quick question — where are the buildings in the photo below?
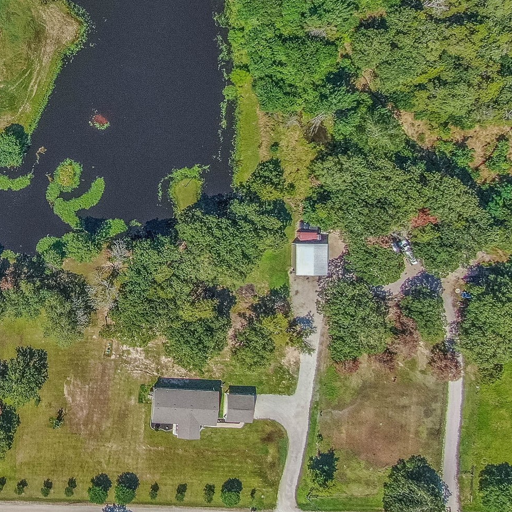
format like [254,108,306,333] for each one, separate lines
[152,386,221,441]
[225,393,255,423]
[288,244,328,276]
